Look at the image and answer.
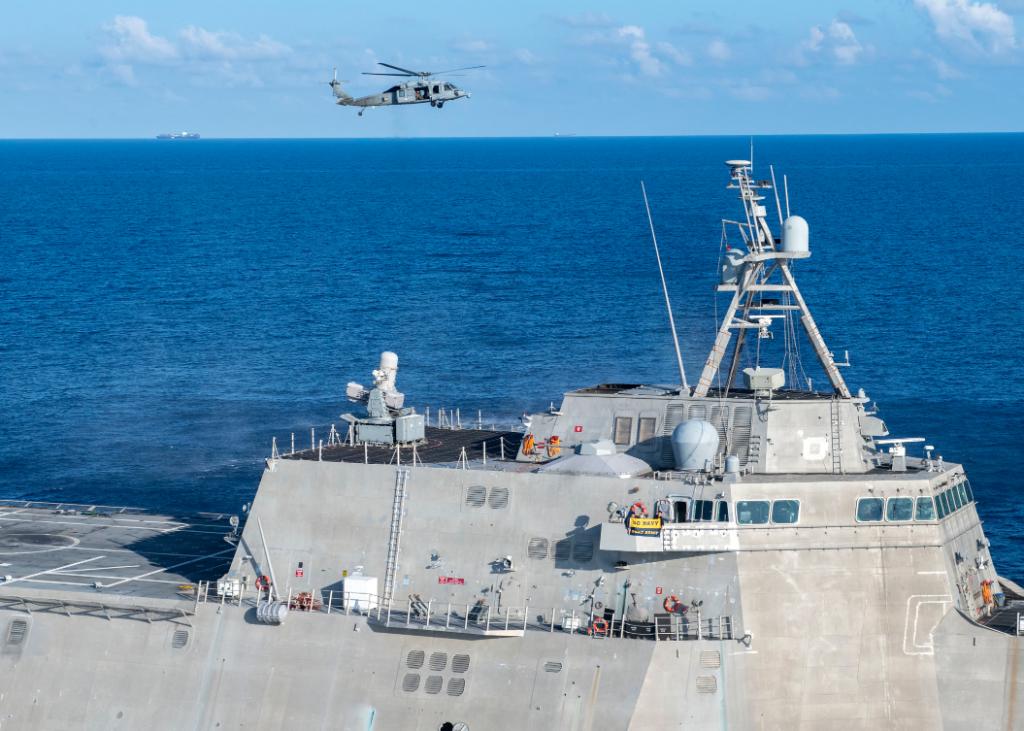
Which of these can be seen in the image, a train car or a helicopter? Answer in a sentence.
It is a helicopter that can be seen here.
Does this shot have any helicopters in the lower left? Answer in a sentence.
No, I can find no helicopter in the lower left.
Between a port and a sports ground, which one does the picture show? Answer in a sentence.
This looks like a port.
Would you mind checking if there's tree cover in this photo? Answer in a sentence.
No, there is no tree cover in the image.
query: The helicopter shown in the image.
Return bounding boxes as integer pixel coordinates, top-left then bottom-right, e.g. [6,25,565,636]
[318,65,487,117]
